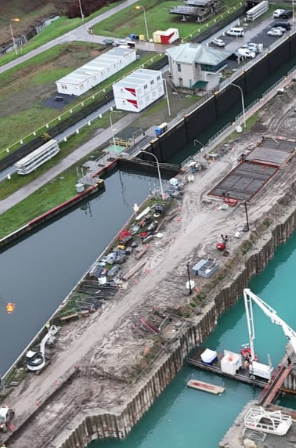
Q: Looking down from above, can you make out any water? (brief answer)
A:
Yes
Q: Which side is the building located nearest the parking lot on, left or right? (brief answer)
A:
right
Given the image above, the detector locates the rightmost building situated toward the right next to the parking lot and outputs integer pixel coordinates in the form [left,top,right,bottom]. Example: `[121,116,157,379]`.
[159,38,228,102]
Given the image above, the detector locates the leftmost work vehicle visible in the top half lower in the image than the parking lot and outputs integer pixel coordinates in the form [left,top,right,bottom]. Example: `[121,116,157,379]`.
[184,153,208,172]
